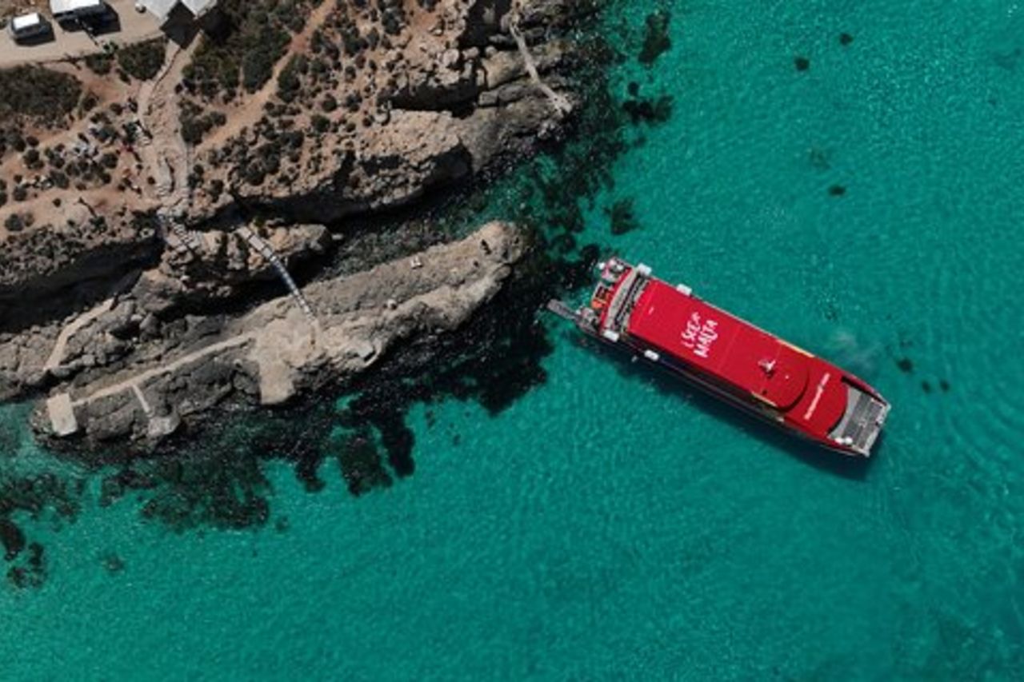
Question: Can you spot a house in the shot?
No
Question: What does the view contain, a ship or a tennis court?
ship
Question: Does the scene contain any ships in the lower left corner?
No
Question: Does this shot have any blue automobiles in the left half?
No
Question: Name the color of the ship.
red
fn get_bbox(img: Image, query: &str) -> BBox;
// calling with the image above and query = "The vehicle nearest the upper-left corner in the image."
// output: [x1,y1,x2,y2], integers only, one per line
[13,14,55,40]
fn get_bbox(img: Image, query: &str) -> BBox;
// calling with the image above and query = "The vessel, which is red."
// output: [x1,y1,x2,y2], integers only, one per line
[544,258,891,456]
